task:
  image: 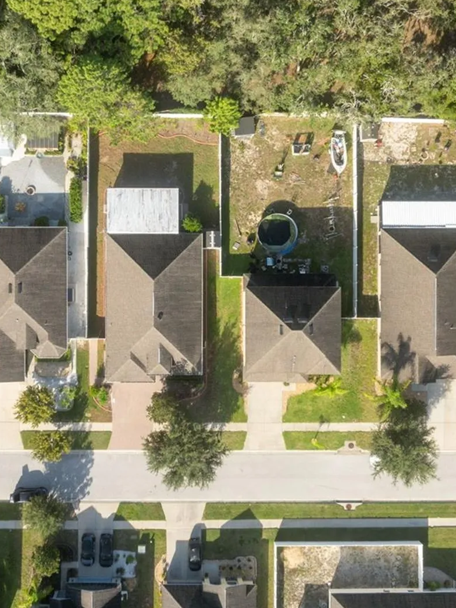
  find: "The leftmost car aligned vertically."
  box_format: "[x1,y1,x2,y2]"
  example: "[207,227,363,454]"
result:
[80,535,95,569]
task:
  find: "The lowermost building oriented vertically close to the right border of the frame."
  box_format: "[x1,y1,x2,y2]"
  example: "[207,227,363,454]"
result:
[377,201,456,385]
